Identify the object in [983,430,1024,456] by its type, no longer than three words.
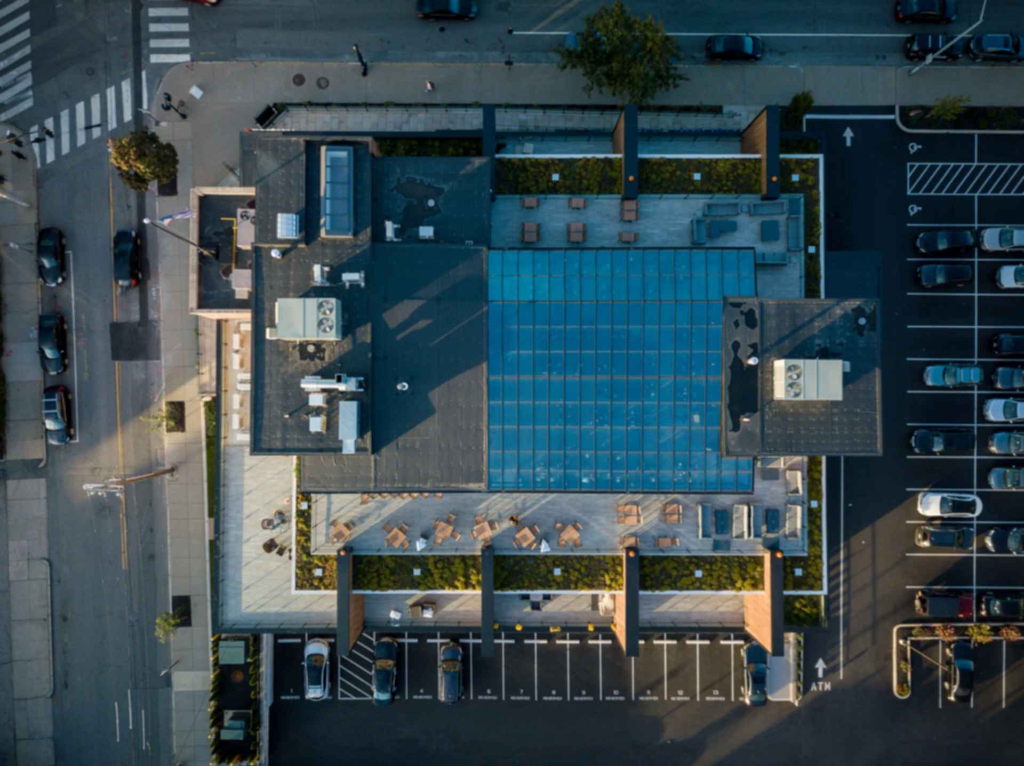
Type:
car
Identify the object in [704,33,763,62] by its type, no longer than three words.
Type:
car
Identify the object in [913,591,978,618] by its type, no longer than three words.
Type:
truck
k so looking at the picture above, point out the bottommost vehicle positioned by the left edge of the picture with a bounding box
[43,387,75,443]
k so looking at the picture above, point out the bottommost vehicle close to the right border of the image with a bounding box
[945,641,977,702]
